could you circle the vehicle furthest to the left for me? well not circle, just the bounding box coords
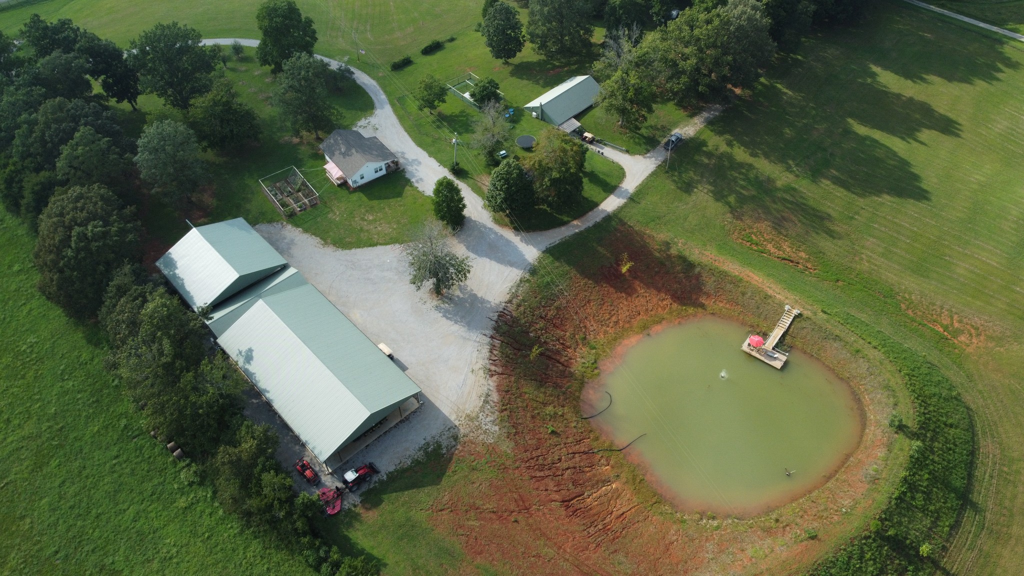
[295,459,320,487]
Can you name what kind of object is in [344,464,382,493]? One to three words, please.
work vehicle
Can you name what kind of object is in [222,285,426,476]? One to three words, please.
barn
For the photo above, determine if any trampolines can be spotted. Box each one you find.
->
[516,136,536,151]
